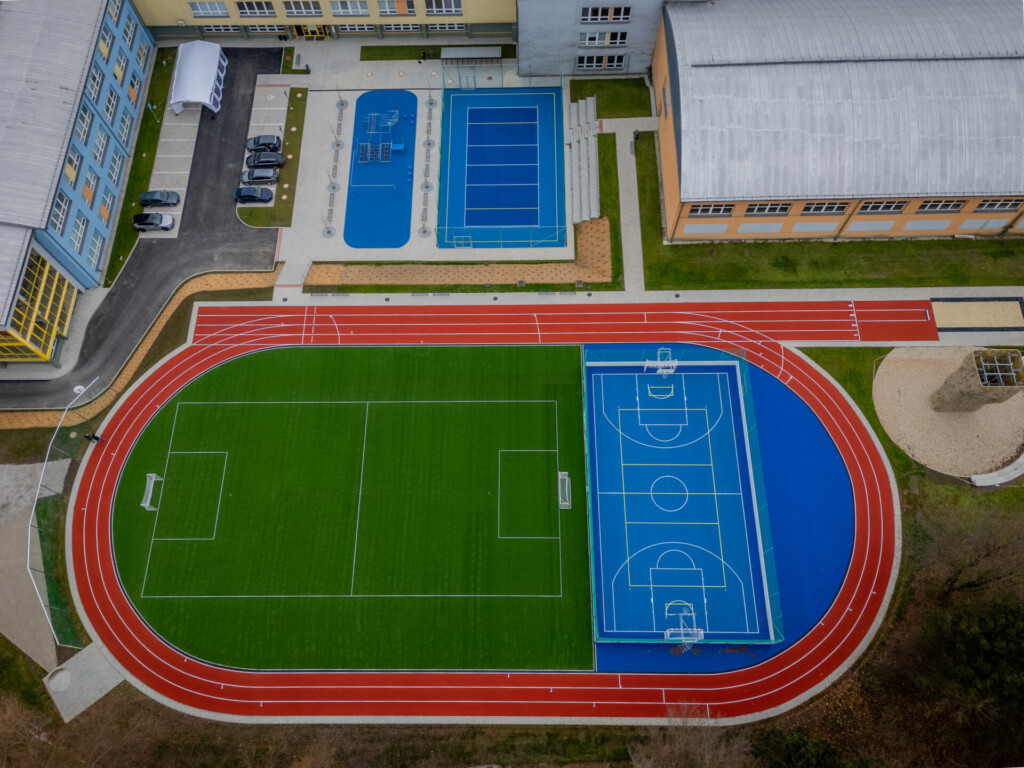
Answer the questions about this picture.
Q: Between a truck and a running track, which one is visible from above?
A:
running track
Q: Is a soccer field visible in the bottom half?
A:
Yes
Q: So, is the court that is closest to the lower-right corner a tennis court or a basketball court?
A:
basketball court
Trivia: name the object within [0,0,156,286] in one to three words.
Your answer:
building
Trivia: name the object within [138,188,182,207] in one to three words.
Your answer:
car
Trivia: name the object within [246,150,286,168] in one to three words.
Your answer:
car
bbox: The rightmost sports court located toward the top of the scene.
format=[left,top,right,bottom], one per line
[437,87,565,248]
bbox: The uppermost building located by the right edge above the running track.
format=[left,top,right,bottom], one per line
[652,0,1024,242]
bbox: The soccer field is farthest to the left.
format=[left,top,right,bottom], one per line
[111,344,596,670]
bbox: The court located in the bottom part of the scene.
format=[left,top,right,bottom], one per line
[587,366,771,641]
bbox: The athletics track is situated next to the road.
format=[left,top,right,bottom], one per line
[65,301,939,726]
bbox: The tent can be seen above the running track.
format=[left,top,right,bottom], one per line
[169,38,232,116]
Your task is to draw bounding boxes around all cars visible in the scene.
[232,185,273,203]
[131,211,176,231]
[138,188,182,207]
[246,150,286,168]
[246,134,282,152]
[241,166,280,185]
